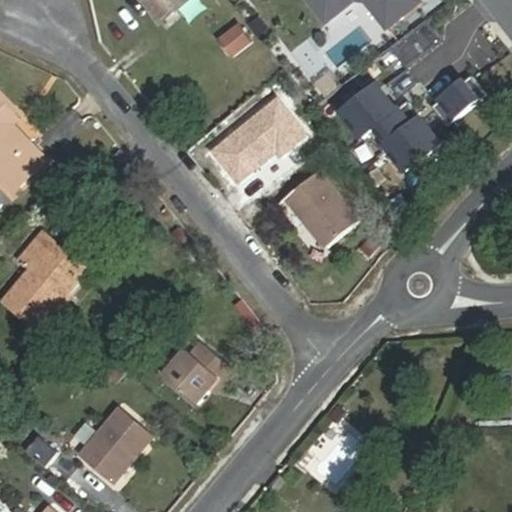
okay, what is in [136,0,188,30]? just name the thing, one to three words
house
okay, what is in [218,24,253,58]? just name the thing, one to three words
shed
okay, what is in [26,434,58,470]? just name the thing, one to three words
building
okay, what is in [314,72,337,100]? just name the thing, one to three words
shed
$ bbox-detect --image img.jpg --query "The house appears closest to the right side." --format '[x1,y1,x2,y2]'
[433,76,480,128]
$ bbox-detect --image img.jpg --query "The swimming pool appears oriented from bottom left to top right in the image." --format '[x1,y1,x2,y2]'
[324,24,373,67]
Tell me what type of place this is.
residential area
